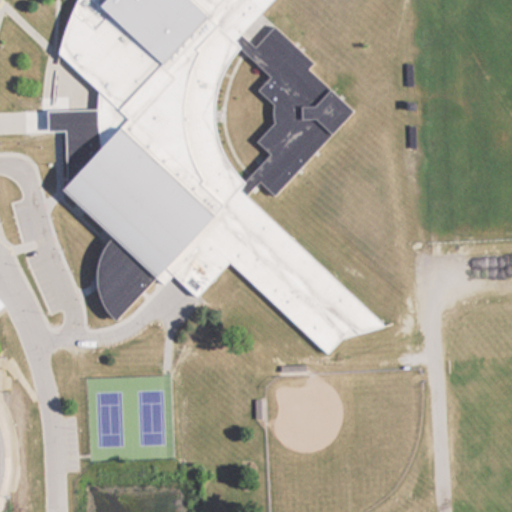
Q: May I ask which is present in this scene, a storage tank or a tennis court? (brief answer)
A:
tennis court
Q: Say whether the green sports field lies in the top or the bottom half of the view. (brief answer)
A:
top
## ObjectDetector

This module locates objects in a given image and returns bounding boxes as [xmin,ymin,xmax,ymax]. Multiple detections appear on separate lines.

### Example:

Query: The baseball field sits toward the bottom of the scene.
[266,369,424,512]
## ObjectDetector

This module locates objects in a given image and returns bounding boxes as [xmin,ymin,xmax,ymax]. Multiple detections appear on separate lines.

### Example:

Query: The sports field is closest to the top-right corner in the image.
[412,0,512,240]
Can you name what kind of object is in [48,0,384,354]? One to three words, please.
building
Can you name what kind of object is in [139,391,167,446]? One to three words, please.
tennis court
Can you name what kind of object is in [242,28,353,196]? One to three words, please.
building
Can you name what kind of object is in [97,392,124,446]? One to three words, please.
tennis court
